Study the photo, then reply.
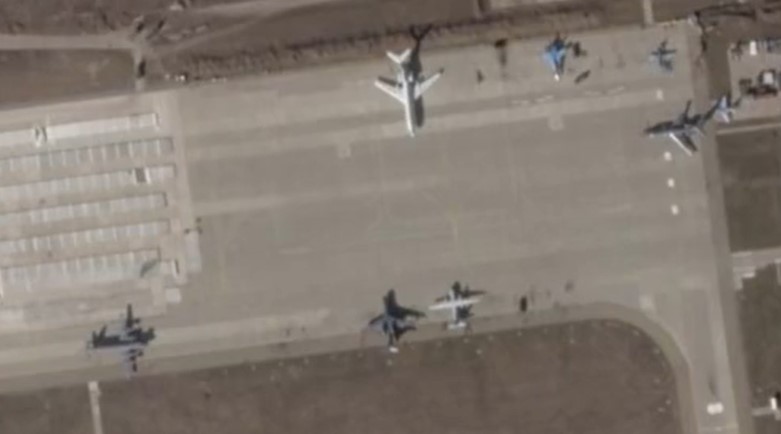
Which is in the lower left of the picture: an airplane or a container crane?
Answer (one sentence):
The feature located in the lower left of the picture is an airplane.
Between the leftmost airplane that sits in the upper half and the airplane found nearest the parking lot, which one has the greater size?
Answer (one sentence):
The leftmost airplane that sits in the upper half takes up more space than the airplane found nearest the parking lot.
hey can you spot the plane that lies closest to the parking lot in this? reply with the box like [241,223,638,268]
[711,96,734,124]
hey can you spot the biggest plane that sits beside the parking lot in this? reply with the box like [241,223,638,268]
[643,101,706,153]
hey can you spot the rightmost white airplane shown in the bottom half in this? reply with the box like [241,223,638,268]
[430,289,480,330]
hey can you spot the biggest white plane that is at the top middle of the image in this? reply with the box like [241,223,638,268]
[373,50,437,136]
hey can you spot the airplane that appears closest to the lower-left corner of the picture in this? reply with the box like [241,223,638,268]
[92,314,149,381]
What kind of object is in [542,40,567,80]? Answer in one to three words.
airplane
